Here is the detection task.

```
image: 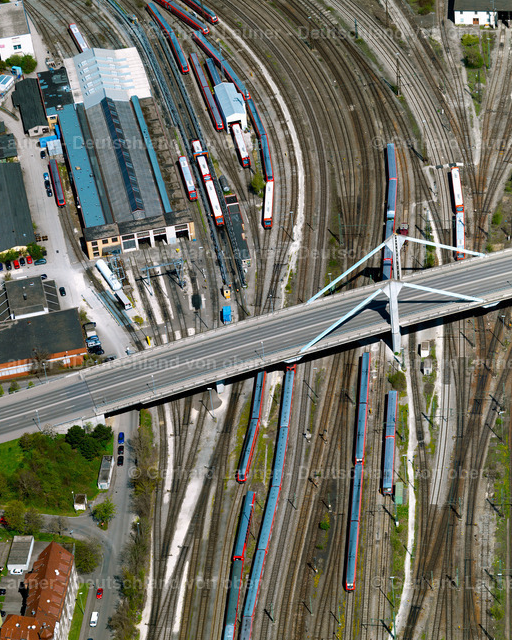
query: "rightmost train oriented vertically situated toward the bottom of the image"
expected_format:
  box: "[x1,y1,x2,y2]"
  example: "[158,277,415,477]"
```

[383,389,396,500]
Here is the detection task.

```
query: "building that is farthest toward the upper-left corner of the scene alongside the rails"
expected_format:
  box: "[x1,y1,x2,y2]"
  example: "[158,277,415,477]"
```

[0,0,33,60]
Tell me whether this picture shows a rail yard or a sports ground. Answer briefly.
rail yard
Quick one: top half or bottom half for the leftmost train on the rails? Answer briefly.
top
